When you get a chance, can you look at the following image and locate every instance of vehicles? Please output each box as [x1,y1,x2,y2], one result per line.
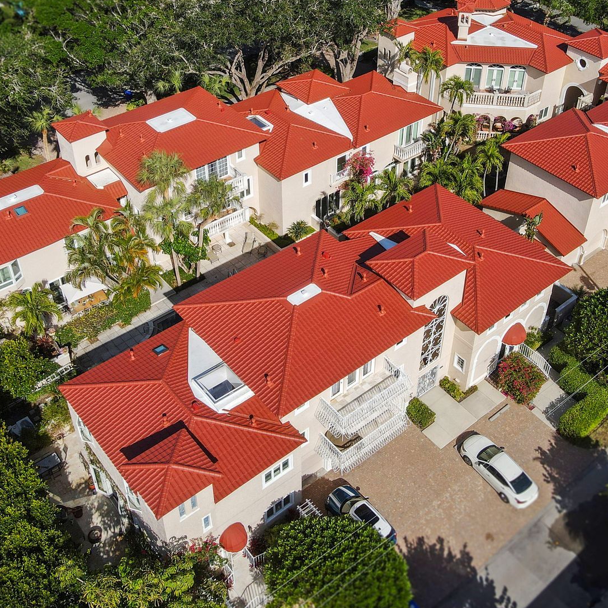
[328,486,395,552]
[457,431,544,508]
